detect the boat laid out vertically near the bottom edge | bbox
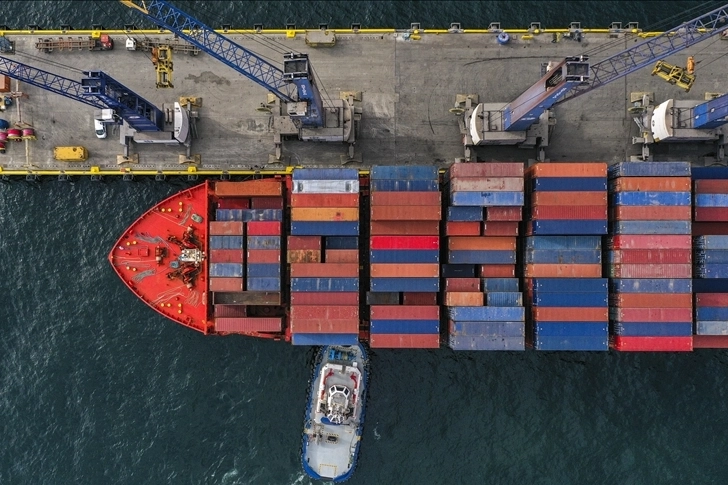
[300,339,370,485]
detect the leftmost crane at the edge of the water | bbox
[0,48,205,161]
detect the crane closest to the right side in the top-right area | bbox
[631,92,728,164]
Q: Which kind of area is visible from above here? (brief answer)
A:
port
